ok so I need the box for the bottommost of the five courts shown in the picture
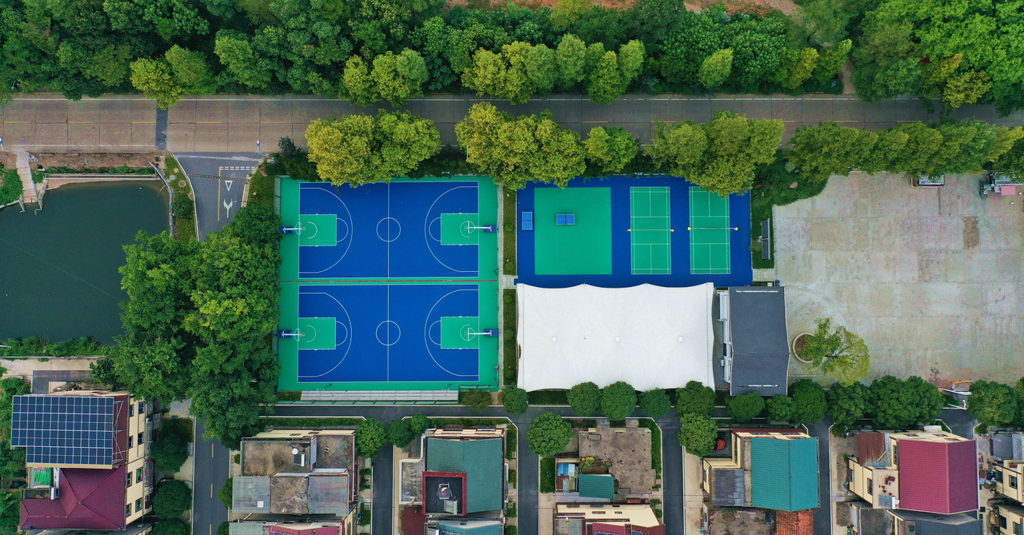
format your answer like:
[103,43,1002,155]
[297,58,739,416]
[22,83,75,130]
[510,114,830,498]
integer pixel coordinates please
[277,281,498,391]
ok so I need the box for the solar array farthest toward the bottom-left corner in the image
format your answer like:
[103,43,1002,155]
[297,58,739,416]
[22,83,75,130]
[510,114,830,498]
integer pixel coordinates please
[10,397,128,464]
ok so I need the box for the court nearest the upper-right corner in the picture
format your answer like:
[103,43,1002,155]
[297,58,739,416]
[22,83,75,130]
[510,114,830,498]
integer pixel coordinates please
[690,187,730,274]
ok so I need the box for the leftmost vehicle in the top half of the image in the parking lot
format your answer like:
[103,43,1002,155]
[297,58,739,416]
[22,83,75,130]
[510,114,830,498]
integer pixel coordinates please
[910,174,945,187]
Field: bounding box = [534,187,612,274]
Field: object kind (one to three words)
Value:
sports court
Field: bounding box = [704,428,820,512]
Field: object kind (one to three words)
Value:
house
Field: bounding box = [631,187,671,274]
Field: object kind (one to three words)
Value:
sports court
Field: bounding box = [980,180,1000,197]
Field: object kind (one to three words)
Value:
work vehicle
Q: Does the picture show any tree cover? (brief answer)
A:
Yes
